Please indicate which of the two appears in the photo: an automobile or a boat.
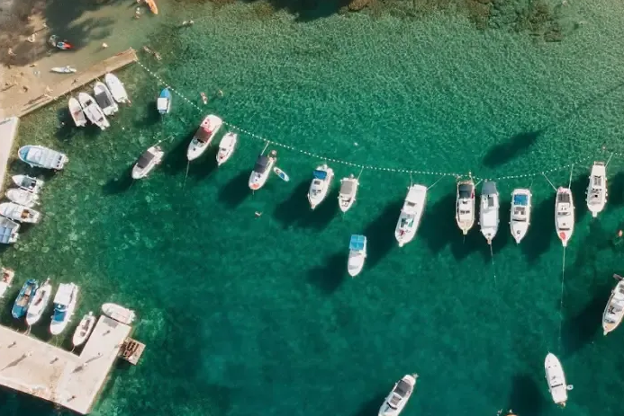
boat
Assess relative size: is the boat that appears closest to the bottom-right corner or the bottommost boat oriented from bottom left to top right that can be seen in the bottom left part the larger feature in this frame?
the boat that appears closest to the bottom-right corner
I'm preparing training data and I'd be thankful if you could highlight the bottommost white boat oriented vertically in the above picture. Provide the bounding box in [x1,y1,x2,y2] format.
[544,351,569,408]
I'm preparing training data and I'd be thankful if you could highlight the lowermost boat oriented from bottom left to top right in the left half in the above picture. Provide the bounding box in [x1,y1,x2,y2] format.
[72,312,97,352]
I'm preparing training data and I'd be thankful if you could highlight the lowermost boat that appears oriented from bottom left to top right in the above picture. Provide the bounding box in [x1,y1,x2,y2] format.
[379,370,418,416]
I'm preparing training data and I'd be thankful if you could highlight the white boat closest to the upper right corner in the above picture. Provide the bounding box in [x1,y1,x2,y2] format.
[577,155,611,217]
